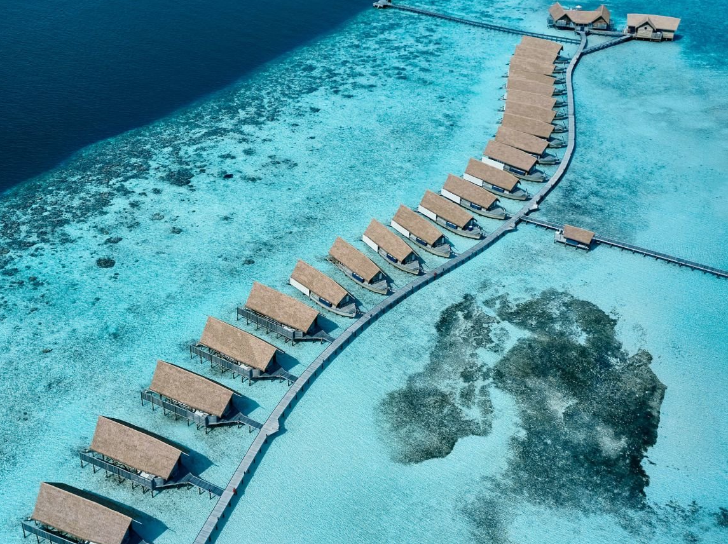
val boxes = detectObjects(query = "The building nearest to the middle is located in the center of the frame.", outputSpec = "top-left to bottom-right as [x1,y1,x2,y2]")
[239,284,338,347]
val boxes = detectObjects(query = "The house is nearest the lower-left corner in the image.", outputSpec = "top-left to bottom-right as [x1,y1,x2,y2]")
[23,484,150,544]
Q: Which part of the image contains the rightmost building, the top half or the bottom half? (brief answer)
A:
top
